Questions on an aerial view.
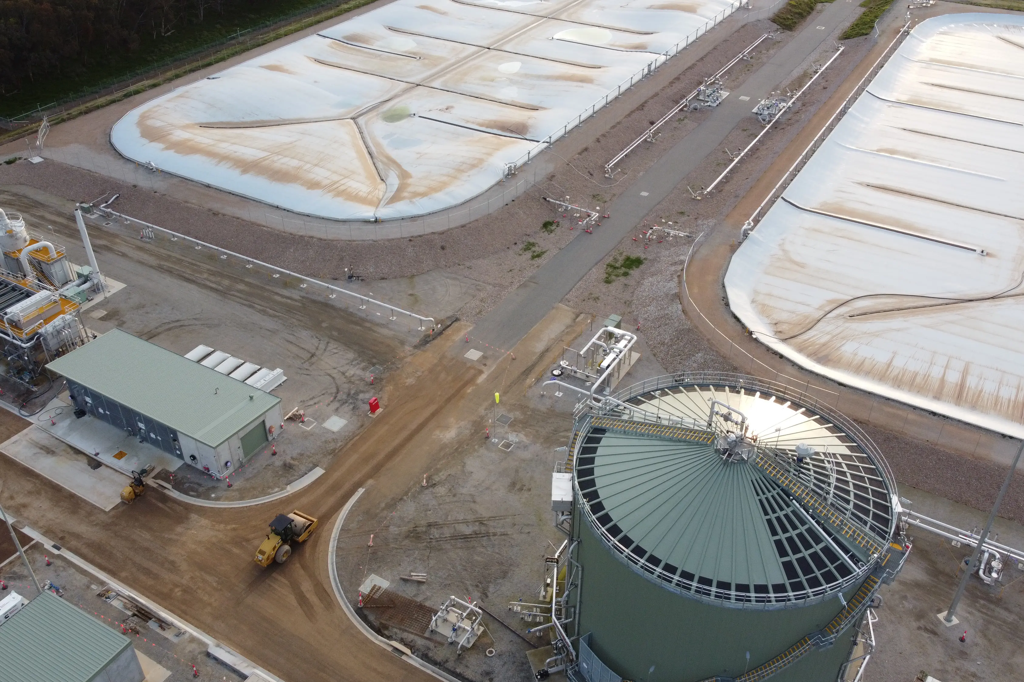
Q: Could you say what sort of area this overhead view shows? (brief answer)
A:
industrial area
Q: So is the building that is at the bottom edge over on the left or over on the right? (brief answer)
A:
left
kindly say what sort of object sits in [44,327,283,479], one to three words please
building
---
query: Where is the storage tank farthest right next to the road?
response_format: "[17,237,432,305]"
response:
[505,373,918,682]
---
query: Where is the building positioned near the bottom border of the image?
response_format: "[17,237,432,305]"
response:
[0,587,136,682]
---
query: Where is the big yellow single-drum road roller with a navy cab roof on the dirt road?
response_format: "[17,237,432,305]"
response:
[253,504,322,571]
